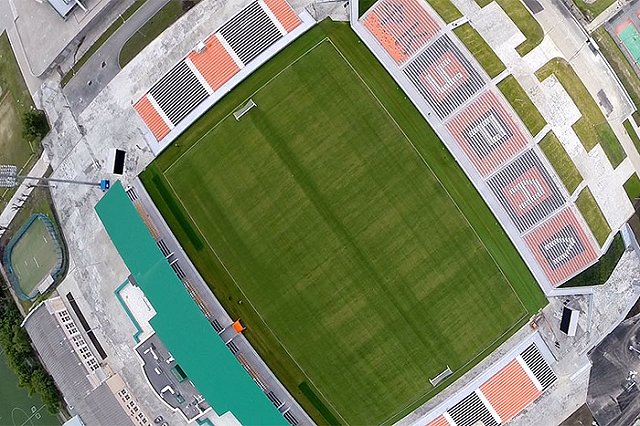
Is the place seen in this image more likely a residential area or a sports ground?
sports ground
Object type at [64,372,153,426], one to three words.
building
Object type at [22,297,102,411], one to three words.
building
